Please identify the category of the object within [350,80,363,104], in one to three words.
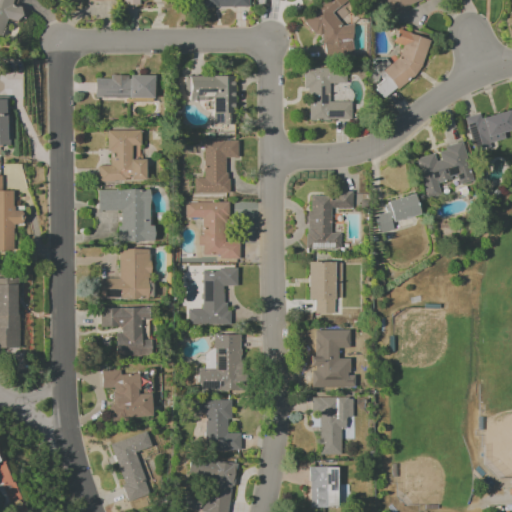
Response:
swimming pool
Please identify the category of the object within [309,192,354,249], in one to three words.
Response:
house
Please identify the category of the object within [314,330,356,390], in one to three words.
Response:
house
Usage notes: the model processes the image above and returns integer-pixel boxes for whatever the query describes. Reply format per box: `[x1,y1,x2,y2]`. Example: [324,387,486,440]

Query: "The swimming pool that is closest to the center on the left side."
[182,228,196,253]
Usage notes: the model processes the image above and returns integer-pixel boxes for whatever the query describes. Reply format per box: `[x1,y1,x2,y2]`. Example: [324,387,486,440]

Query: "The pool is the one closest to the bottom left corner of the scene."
[183,338,210,358]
